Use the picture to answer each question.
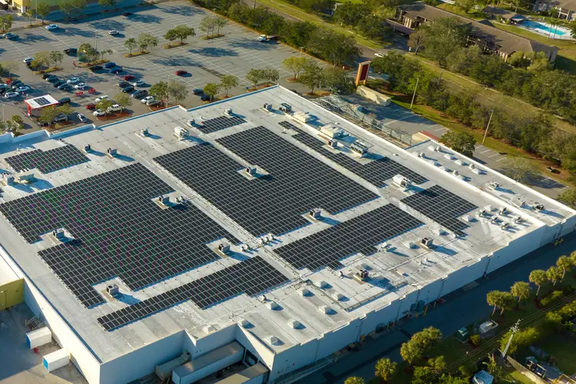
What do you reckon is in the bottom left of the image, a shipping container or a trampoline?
shipping container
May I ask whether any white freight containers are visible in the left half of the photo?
Yes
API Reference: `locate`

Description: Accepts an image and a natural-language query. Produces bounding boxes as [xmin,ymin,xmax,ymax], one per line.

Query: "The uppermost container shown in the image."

[24,325,56,351]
